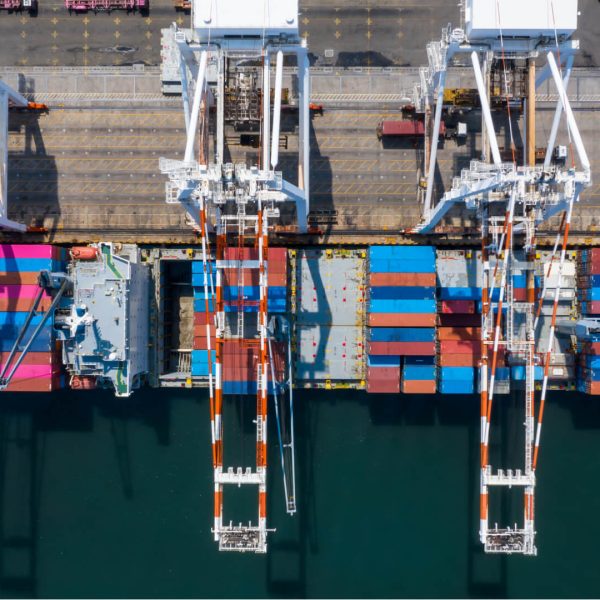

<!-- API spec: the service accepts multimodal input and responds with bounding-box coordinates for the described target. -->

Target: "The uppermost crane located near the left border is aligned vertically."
[0,80,49,234]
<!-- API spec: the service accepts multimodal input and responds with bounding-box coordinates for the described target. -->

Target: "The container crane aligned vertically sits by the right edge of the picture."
[391,0,600,551]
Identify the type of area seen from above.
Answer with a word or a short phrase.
port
